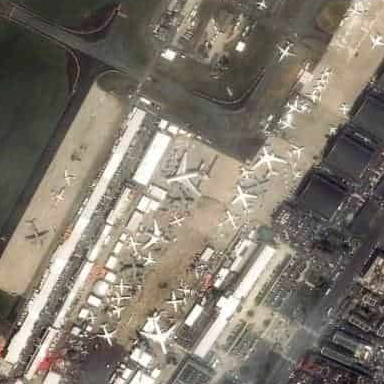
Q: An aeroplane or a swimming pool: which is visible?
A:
aeroplane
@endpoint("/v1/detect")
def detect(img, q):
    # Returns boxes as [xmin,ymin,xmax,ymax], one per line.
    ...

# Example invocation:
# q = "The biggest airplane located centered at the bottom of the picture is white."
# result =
[135,310,178,355]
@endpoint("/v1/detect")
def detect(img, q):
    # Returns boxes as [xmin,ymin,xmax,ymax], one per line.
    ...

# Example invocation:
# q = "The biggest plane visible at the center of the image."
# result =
[167,152,214,195]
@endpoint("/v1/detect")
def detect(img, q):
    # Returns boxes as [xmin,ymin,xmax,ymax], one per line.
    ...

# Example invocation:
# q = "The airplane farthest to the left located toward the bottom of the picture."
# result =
[26,218,49,246]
